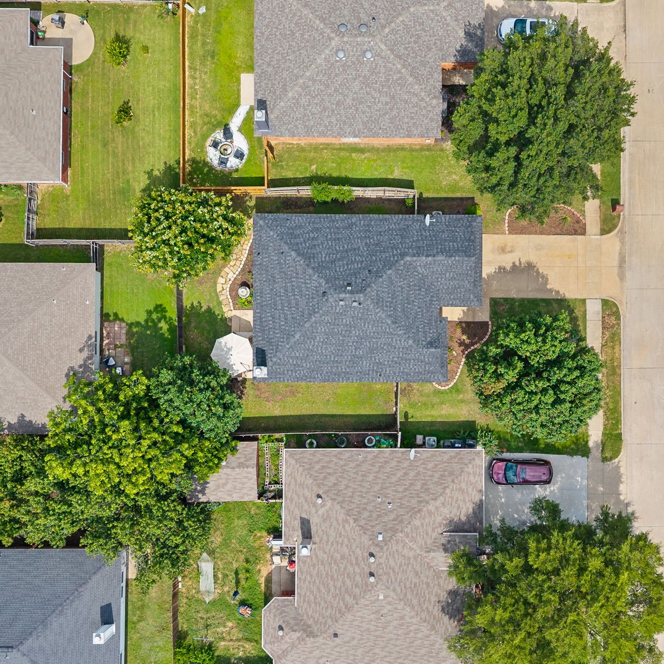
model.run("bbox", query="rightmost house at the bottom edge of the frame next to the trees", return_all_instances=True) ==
[260,447,486,664]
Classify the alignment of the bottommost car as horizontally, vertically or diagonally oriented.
horizontally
